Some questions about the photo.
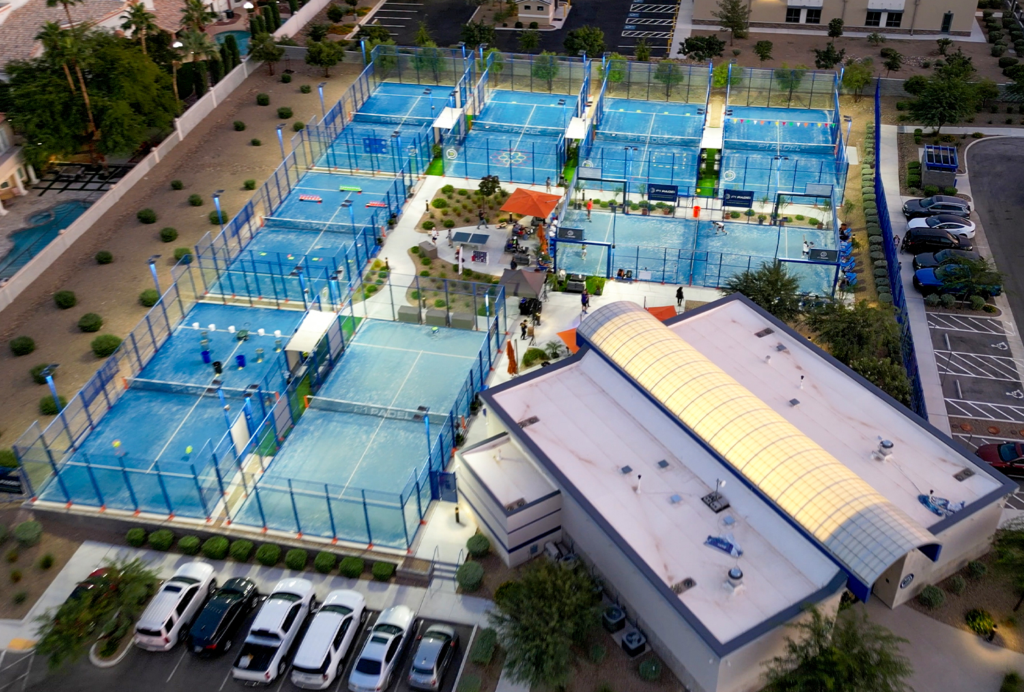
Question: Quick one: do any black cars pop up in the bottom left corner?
Yes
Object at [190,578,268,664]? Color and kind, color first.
black car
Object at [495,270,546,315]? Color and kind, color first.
gray tent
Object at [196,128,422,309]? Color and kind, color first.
blue sports court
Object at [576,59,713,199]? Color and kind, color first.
blue sports court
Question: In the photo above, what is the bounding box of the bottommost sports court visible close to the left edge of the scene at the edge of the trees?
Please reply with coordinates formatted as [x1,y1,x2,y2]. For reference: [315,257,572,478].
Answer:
[16,253,338,526]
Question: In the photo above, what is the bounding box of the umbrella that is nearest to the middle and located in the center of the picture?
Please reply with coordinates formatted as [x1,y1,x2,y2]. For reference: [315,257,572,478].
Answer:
[506,336,523,379]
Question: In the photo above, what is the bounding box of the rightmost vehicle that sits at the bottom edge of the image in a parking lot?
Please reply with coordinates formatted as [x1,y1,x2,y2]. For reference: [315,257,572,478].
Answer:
[404,635,459,692]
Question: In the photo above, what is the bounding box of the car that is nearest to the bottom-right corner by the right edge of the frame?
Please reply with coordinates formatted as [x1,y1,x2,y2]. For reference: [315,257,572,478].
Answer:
[963,436,1024,474]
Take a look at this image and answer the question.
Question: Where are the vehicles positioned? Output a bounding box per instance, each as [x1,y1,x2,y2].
[136,563,224,656]
[293,593,371,690]
[963,436,1024,474]
[190,578,268,664]
[908,211,980,236]
[236,582,320,686]
[347,612,418,692]
[905,189,976,218]
[904,224,976,255]
[404,635,459,692]
[913,246,991,270]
